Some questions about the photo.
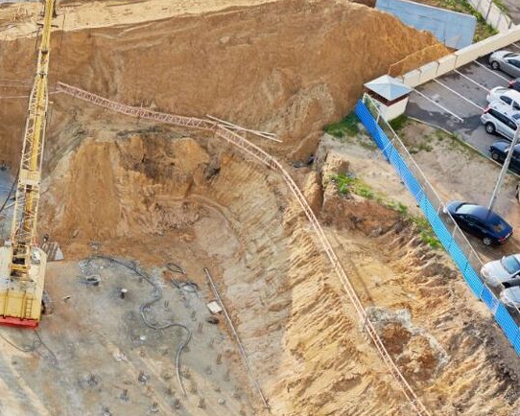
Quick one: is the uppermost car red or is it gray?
gray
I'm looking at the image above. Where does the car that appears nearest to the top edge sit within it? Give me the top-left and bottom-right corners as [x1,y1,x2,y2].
[486,47,520,74]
